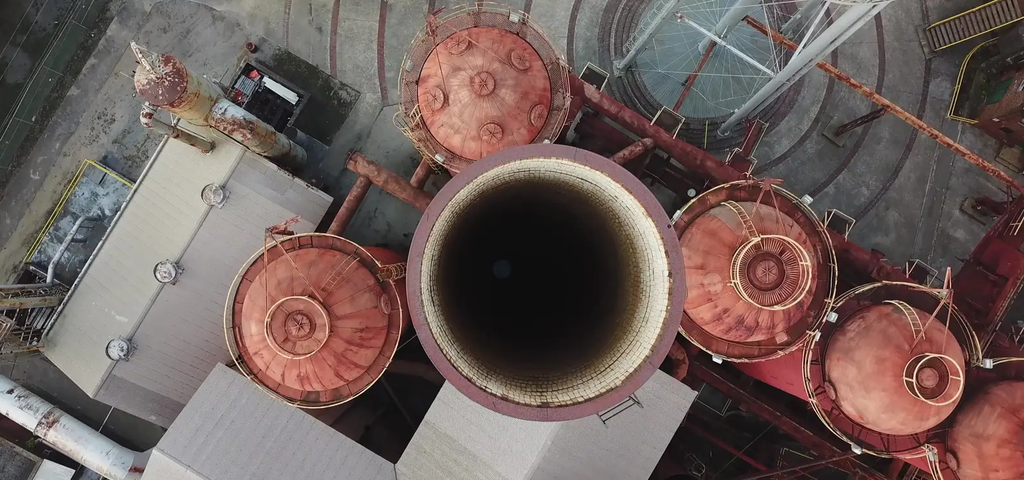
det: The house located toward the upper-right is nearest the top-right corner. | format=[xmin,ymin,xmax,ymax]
[975,67,1024,145]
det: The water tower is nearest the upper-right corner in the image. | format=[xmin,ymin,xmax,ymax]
[607,0,871,141]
